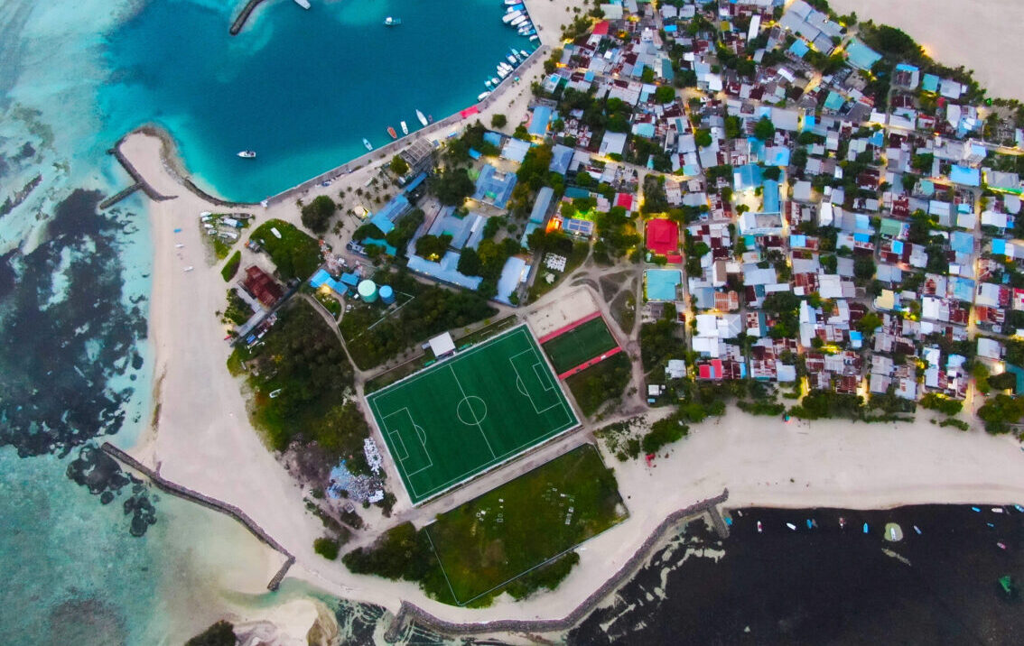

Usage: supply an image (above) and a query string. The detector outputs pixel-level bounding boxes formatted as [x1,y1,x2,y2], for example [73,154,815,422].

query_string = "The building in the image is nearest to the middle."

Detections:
[493,257,526,307]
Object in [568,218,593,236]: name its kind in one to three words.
building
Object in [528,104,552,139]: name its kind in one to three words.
house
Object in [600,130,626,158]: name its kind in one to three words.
house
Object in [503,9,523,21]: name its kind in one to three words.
boat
